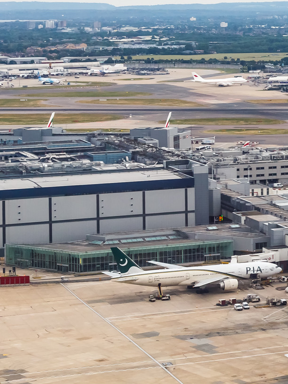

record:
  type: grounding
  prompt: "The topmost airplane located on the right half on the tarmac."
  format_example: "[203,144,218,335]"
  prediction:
[190,70,247,85]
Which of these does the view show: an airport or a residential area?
airport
